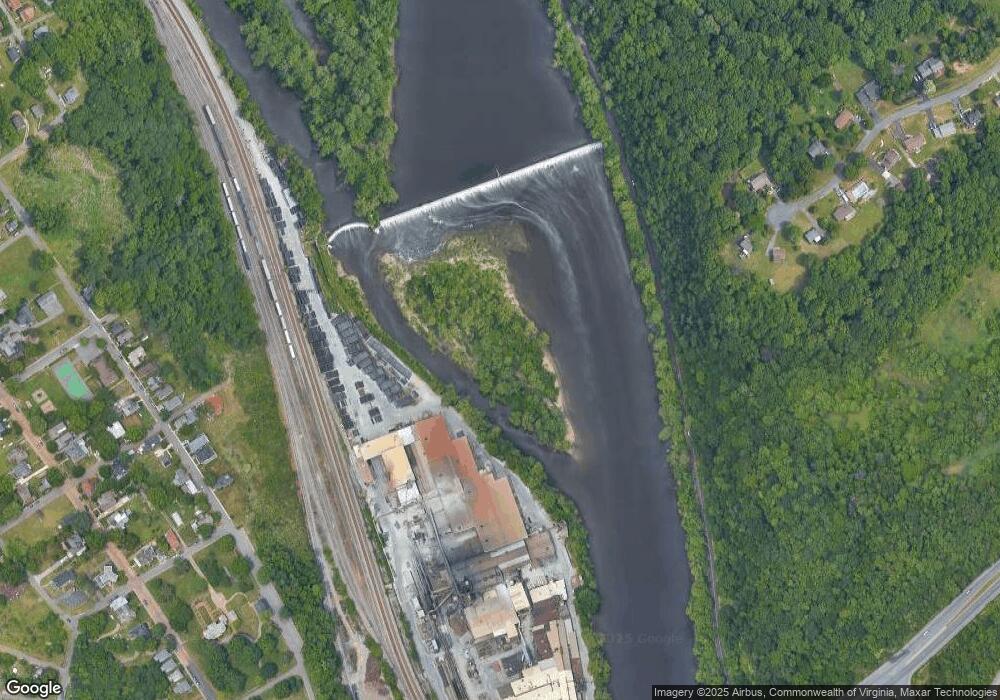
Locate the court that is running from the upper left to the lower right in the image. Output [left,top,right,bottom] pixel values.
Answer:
[52,357,95,402]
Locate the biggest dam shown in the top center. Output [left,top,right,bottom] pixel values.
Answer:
[379,143,603,229]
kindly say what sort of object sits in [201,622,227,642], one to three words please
house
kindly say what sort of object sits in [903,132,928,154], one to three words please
house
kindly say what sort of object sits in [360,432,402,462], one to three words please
building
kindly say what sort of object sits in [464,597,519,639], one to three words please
building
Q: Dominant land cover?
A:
trees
